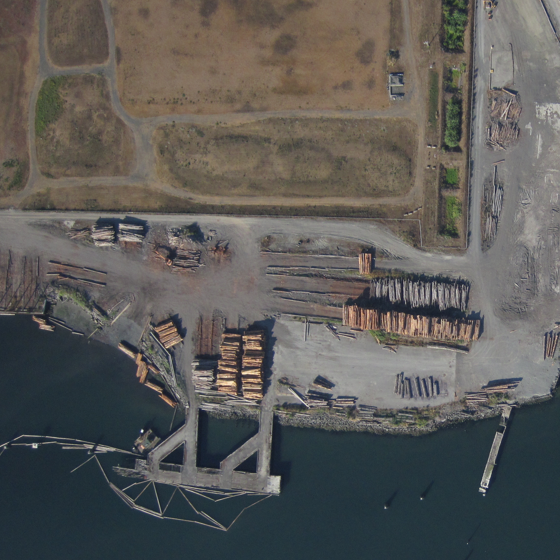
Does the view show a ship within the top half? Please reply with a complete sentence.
No, I see no ship within the top half.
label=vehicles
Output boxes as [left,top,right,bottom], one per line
[154,248,174,267]
[484,0,493,9]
